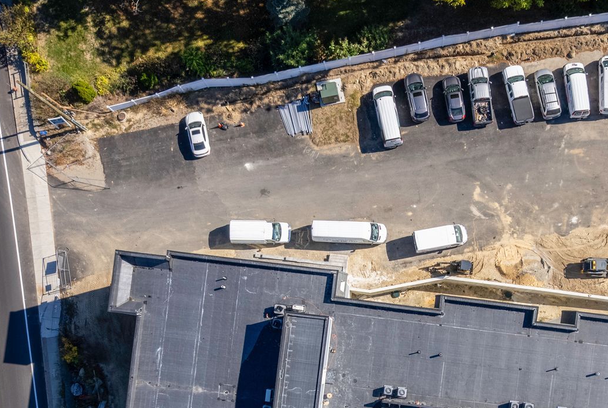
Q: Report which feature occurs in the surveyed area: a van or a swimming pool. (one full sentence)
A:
The image shows a van.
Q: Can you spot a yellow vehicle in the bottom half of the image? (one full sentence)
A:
No, I can find no yellow vehicle in the bottom half of the image.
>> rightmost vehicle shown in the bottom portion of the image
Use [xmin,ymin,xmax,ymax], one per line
[579,258,608,277]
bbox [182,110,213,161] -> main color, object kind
white car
